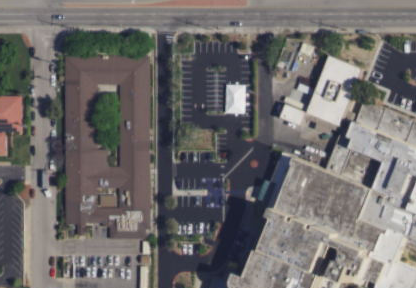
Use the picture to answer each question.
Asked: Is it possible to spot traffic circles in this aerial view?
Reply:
No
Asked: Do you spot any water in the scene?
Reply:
No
